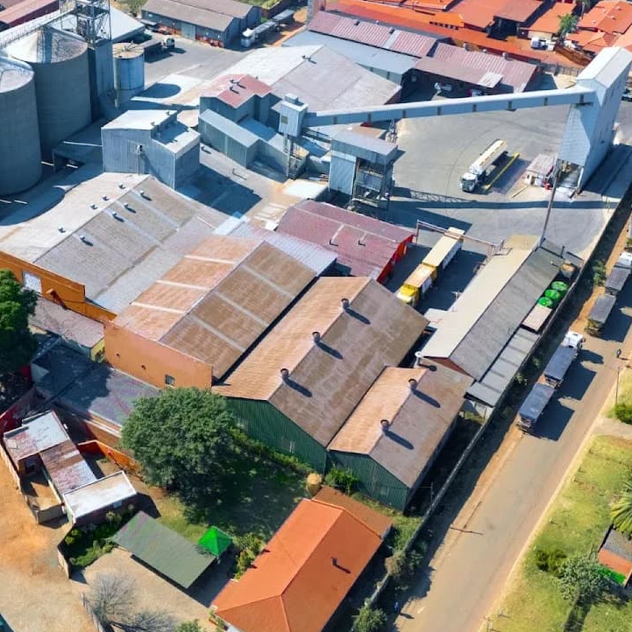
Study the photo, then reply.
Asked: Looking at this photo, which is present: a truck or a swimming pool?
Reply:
truck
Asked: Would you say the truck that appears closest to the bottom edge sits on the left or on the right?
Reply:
right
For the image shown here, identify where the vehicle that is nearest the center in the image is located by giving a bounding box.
[408,216,468,299]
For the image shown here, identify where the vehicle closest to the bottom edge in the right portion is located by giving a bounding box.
[520,336,588,434]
